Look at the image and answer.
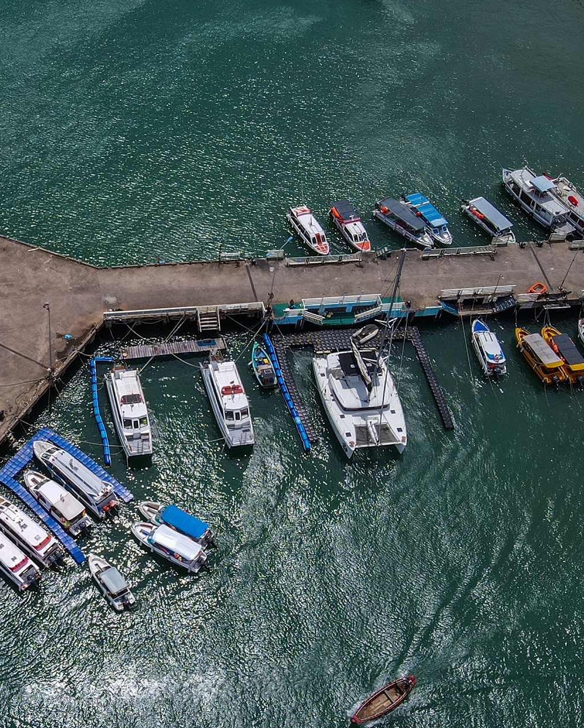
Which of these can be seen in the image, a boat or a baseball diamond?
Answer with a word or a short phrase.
boat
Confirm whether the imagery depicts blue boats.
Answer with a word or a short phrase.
Yes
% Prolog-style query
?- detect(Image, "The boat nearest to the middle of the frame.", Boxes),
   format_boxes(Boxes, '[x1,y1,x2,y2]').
[252,337,276,389]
